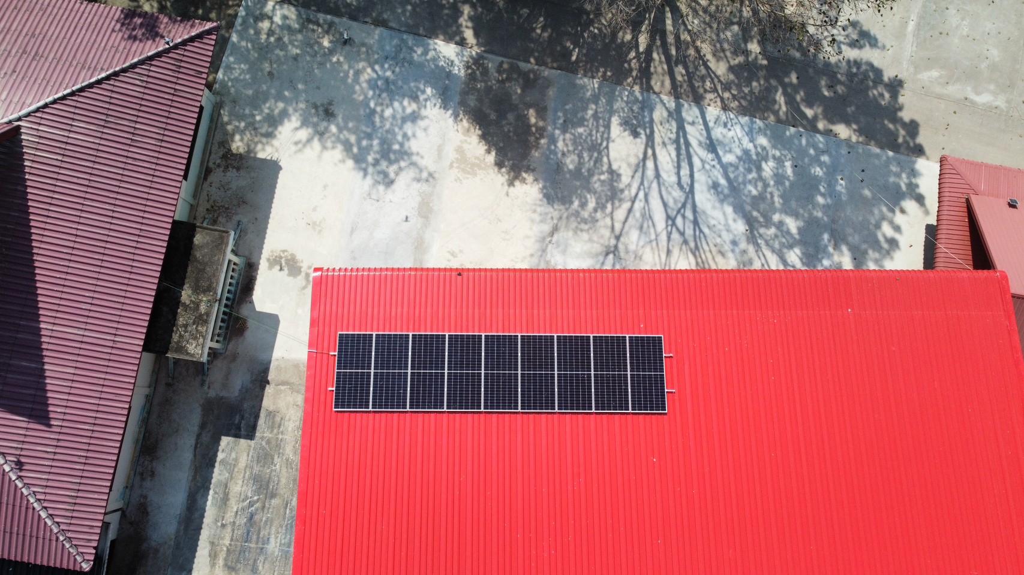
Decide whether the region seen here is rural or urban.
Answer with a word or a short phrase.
urban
